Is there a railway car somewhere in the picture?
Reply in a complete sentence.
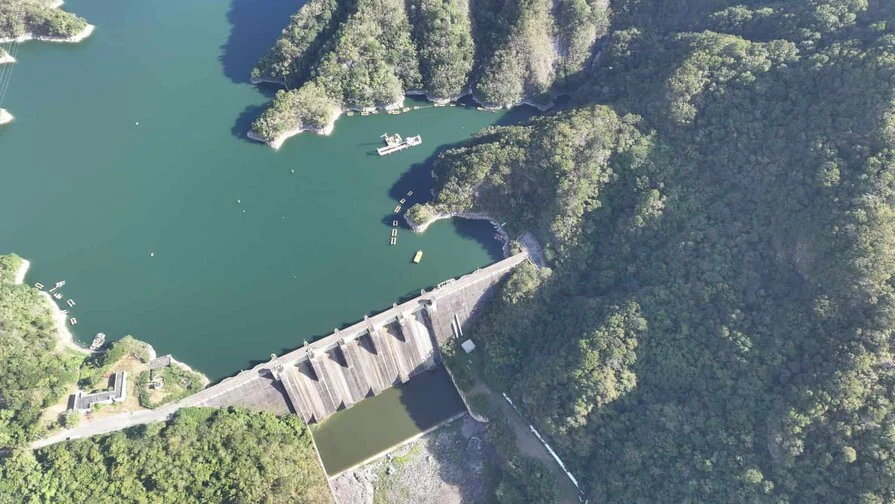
No, there is no railway car in the image.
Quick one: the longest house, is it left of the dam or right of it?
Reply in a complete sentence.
The longest house appears to the left of the dam in this view.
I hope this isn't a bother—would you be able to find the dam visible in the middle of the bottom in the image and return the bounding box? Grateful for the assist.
[195,251,528,501]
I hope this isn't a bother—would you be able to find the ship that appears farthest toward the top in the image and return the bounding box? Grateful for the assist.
[378,136,421,156]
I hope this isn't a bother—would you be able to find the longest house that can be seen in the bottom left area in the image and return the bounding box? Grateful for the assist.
[70,370,128,413]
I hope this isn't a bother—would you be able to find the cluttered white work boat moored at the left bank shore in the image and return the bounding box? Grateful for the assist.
[89,332,106,352]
